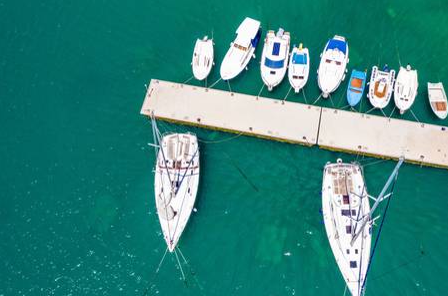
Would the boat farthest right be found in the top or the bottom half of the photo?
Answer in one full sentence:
You can find the boat farthest right in the top half.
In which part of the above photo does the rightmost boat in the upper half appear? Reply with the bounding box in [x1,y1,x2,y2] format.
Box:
[427,83,448,120]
